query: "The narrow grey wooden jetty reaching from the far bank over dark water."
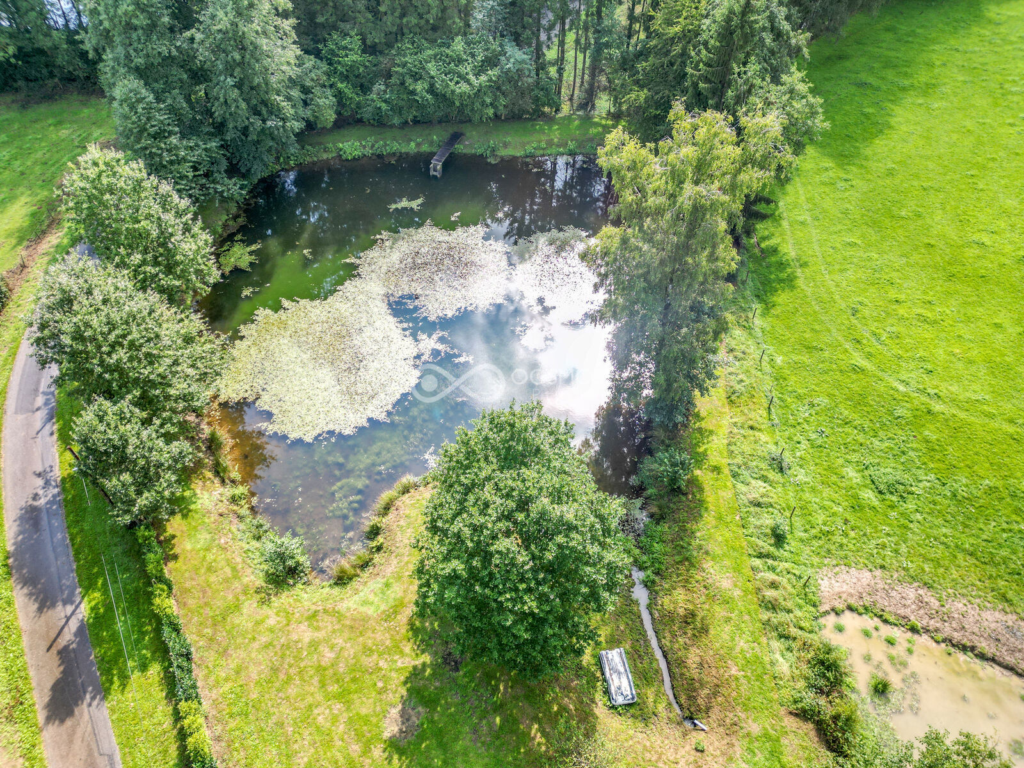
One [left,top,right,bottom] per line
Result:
[430,132,463,172]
